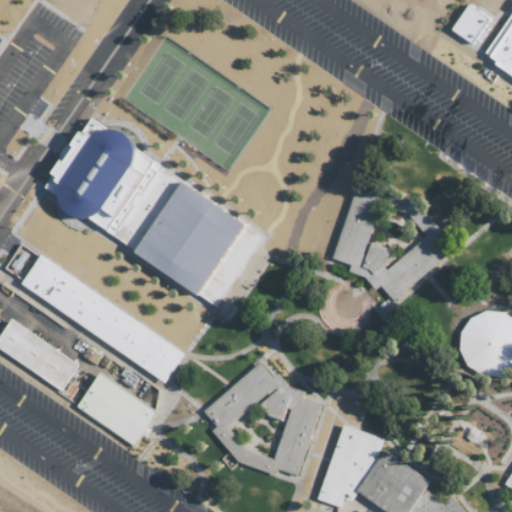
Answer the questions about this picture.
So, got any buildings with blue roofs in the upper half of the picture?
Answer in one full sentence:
Yes, looking in the upper half of the picture, one can make out a building with a blue roof.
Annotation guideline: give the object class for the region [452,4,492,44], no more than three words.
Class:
shed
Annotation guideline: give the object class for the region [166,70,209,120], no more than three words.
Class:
tennis court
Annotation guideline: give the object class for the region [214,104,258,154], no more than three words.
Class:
tennis court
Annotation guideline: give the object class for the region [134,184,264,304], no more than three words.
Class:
building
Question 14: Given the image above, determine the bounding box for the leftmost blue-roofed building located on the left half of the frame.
[44,118,136,219]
